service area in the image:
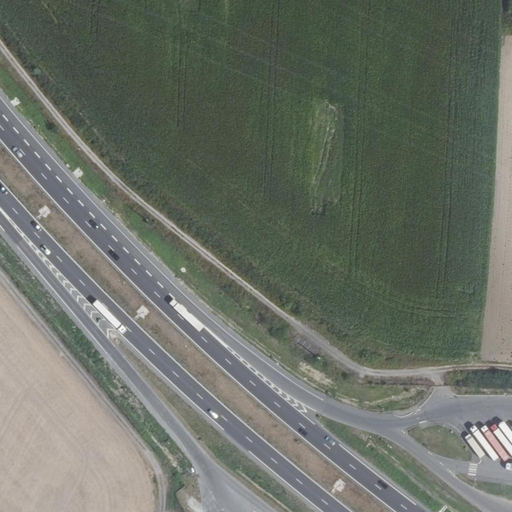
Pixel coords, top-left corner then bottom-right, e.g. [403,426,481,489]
[338,385,512,512]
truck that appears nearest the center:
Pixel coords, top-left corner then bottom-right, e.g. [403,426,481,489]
[170,300,203,332]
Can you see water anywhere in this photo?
No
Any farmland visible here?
Yes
